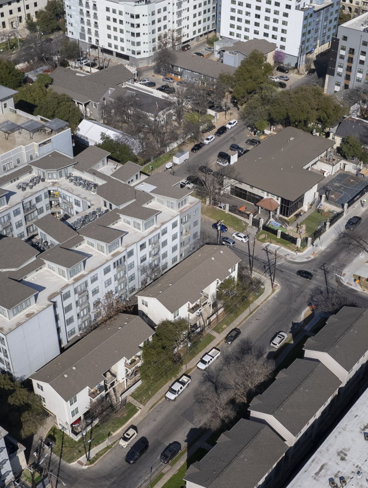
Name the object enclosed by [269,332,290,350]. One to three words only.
car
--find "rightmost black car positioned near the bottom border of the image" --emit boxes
[157,440,186,467]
